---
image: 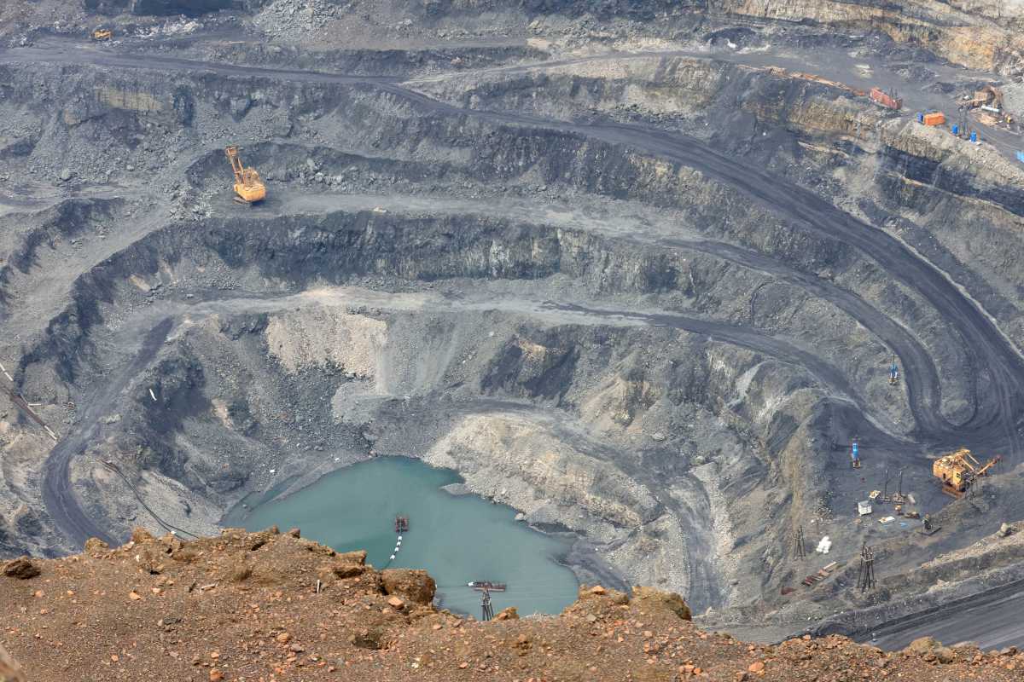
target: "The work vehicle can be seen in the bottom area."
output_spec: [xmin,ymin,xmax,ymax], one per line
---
[928,453,1010,496]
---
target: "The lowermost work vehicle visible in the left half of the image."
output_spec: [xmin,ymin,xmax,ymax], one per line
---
[225,134,265,205]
